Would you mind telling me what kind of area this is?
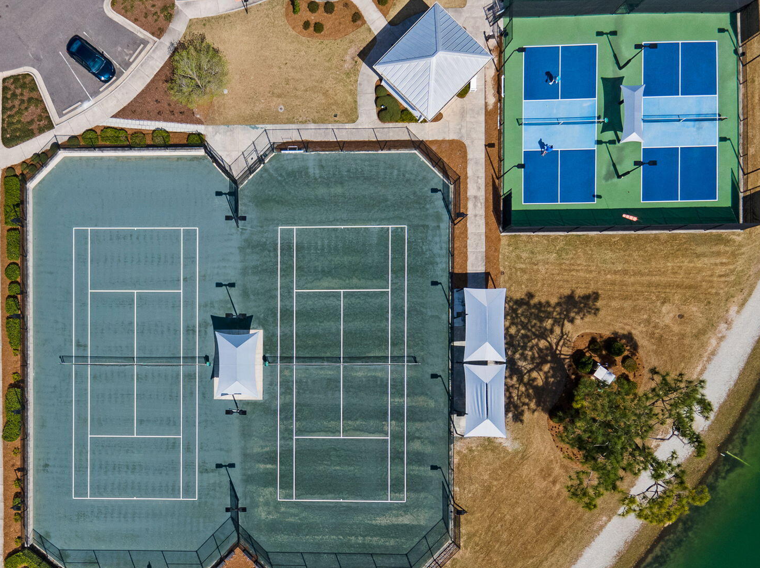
sports ground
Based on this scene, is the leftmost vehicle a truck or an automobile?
automobile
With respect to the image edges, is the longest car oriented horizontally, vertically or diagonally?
diagonally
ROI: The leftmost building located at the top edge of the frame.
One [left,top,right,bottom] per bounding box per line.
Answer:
[371,1,494,127]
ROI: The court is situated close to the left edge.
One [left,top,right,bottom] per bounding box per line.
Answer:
[25,150,239,568]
